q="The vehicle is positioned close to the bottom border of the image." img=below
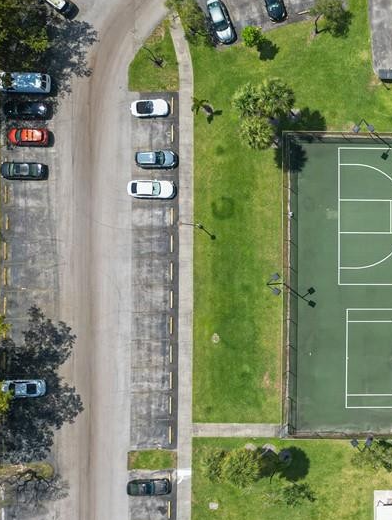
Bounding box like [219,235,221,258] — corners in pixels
[127,477,173,498]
